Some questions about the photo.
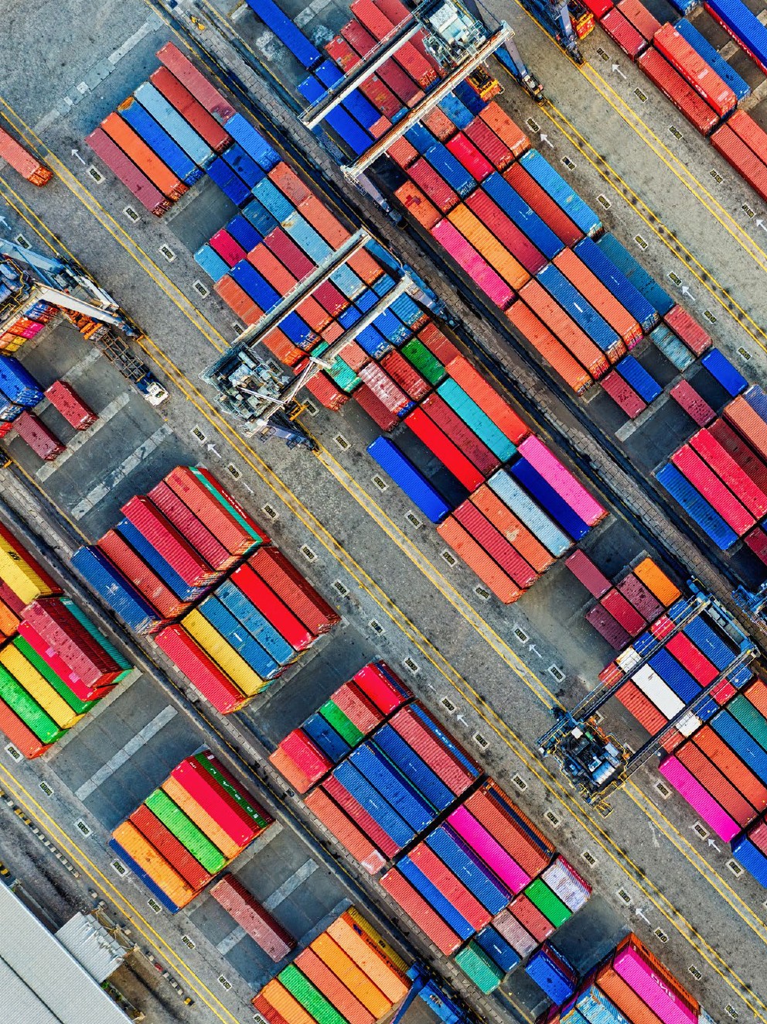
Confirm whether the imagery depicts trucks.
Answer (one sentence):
Yes, I can see a truck in this picture.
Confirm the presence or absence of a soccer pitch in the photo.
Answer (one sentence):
No, the frame has no soccer pitch in it.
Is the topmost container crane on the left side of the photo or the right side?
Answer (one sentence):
You can find the topmost container crane on the right side of the picture.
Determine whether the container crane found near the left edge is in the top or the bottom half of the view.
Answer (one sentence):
Seen from above, the container crane found near the left edge lies in the top half of the view.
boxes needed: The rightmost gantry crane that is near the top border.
[522,0,588,65]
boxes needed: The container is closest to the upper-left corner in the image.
[0,114,52,184]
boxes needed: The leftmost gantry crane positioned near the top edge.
[292,0,547,232]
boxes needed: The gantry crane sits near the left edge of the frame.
[0,232,143,349]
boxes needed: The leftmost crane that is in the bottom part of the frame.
[381,967,480,1024]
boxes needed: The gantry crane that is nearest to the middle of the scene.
[195,220,459,460]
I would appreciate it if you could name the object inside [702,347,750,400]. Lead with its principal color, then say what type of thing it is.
blue shipping container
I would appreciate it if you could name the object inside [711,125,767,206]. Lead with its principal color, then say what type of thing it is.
red shipping container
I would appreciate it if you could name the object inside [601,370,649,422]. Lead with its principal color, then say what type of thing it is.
red shipping container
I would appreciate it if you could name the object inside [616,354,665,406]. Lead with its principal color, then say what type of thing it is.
blue shipping container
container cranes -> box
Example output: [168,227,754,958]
[292,0,547,232]
[522,0,588,65]
[0,232,143,349]
[381,967,480,1024]
[195,220,459,460]
[525,579,766,834]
